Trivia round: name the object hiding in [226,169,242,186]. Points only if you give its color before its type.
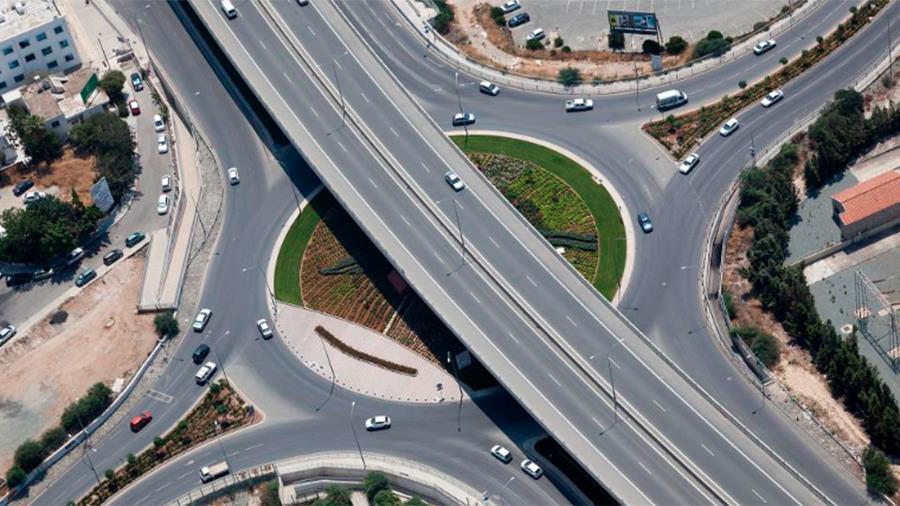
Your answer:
white car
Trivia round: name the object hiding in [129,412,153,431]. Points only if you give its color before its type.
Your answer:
red car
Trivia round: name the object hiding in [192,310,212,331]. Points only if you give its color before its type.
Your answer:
white car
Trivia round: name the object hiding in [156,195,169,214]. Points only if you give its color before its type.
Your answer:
white vehicle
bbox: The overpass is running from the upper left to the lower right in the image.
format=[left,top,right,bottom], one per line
[173,0,839,506]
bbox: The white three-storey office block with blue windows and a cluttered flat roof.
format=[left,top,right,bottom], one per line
[0,0,82,95]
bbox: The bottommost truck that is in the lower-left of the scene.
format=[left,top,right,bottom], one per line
[197,459,233,481]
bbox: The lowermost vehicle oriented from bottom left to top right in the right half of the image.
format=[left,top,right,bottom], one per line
[679,155,700,173]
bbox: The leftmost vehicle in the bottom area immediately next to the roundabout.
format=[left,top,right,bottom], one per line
[256,320,273,340]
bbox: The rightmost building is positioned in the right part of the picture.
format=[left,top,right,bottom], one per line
[823,165,900,237]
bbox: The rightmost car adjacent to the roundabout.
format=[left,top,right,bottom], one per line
[637,213,652,233]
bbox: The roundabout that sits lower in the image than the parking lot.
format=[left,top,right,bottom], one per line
[266,130,635,403]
